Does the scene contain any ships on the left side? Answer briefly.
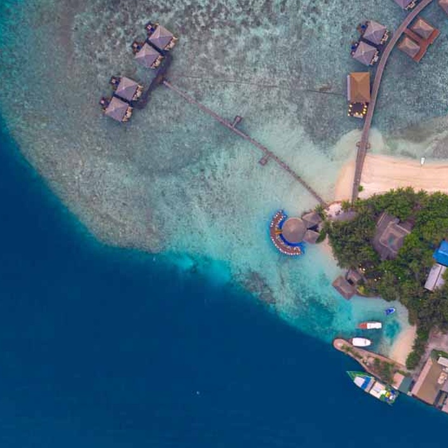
No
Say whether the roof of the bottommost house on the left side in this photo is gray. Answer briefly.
Yes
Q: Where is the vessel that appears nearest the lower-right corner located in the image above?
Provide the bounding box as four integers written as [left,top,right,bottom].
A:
[349,370,398,409]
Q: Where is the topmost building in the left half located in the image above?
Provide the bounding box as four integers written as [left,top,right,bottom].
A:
[147,20,179,53]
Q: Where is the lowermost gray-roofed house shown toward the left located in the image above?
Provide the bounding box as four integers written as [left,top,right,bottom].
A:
[102,94,135,122]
